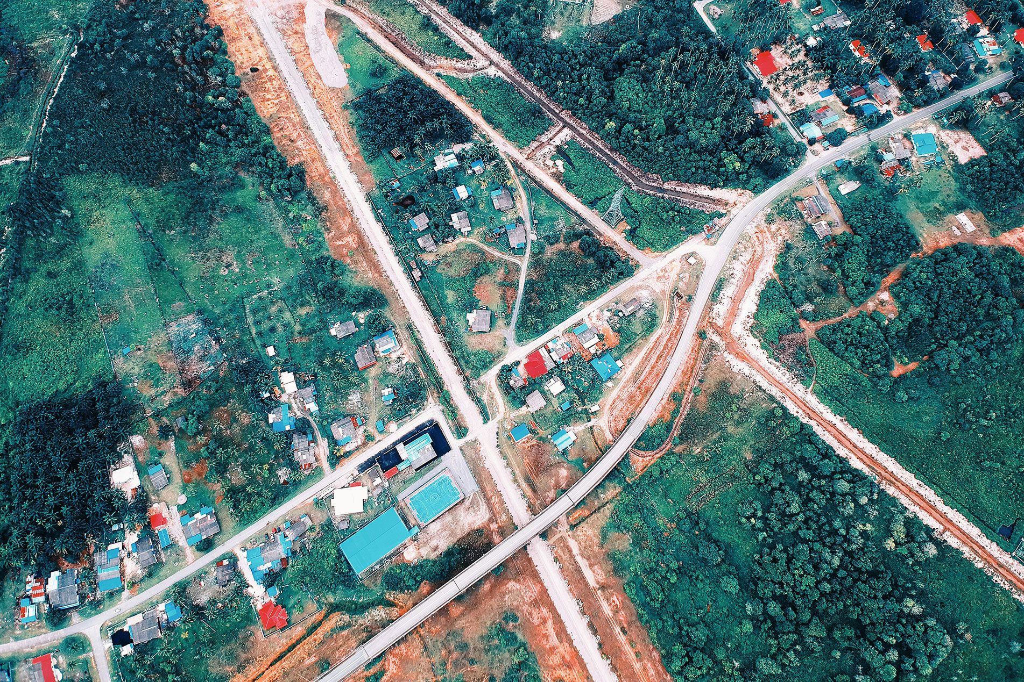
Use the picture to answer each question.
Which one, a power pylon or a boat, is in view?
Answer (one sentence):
Looking from above, you can make out a power pylon.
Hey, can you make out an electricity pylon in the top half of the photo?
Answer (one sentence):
Yes, an electricity pylon shows up in the top half of the photo.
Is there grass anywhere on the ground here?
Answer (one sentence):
Yes, some grass is visible.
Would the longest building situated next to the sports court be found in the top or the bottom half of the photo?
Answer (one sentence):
It is in the bottom half that the longest building situated next to the sports court appears.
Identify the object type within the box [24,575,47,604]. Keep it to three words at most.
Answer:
shed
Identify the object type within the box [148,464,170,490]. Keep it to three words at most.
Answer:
house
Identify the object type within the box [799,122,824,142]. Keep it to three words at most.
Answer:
house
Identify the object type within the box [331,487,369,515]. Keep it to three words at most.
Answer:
building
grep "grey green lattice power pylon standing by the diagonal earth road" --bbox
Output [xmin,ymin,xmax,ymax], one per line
[600,191,624,228]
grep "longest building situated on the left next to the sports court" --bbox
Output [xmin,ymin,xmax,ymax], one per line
[340,507,420,575]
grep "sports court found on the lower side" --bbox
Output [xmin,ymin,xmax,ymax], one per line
[406,471,465,527]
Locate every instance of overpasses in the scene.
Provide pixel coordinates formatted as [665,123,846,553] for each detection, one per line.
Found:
[310,310,700,682]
